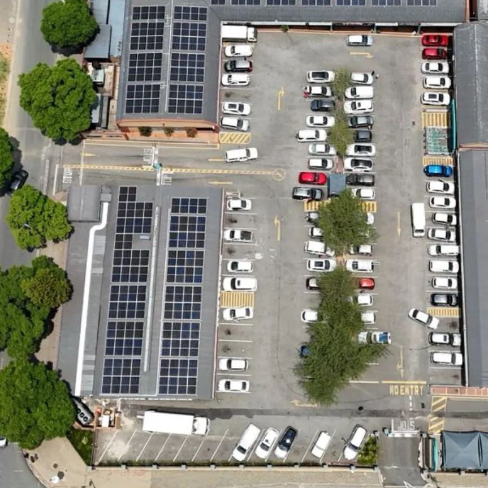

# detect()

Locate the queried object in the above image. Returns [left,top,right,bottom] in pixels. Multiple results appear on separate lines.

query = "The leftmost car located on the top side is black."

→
[4,167,27,195]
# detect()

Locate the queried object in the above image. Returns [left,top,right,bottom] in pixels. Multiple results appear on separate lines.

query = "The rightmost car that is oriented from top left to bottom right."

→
[407,306,440,331]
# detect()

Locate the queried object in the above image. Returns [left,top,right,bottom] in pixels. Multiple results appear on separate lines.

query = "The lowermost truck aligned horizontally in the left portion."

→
[138,415,211,437]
